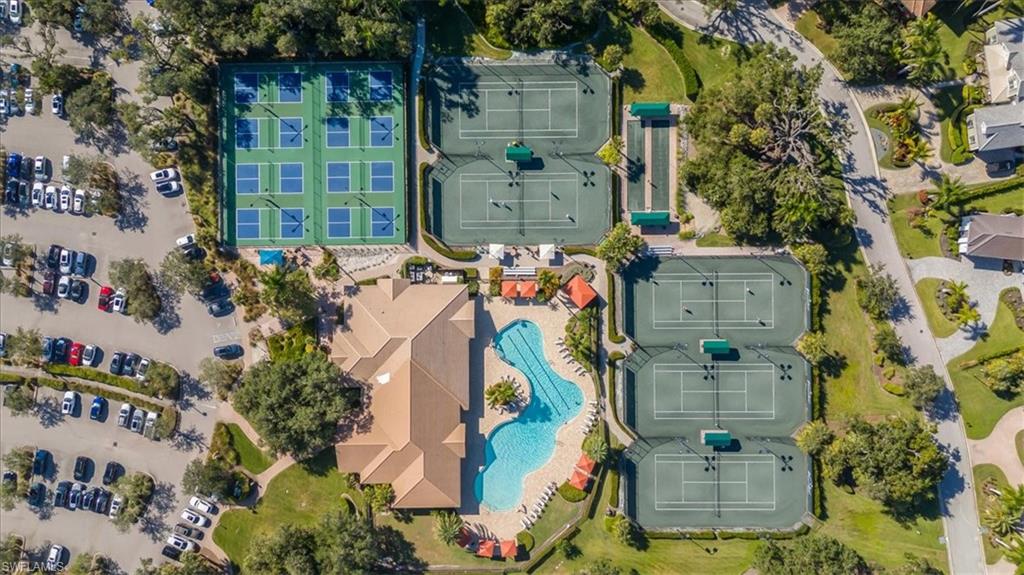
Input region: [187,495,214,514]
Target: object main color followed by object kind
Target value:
white vehicle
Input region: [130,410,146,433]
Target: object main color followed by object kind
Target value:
gray car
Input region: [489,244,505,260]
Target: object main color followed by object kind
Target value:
white umbrella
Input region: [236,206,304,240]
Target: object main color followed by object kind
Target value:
blue sports court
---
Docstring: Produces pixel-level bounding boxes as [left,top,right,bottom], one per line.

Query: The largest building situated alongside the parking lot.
[326,279,475,509]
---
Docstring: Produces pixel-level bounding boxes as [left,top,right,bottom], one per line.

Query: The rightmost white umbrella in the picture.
[540,244,555,259]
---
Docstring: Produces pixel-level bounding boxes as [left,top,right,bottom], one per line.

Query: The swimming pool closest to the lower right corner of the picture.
[473,318,586,513]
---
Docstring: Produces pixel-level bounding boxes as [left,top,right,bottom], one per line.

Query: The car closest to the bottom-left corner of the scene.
[49,541,64,566]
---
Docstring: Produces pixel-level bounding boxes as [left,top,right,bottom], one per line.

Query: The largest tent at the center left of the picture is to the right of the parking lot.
[259,250,287,265]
